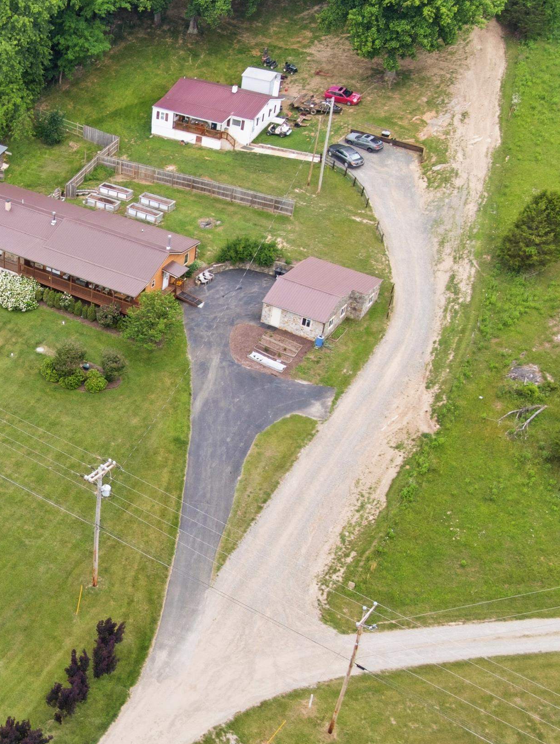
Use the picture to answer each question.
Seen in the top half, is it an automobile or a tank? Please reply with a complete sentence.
There is an automobile in the top half.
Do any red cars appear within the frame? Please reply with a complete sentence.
Yes, this view includes a red car.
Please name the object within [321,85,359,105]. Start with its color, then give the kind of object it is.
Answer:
red car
